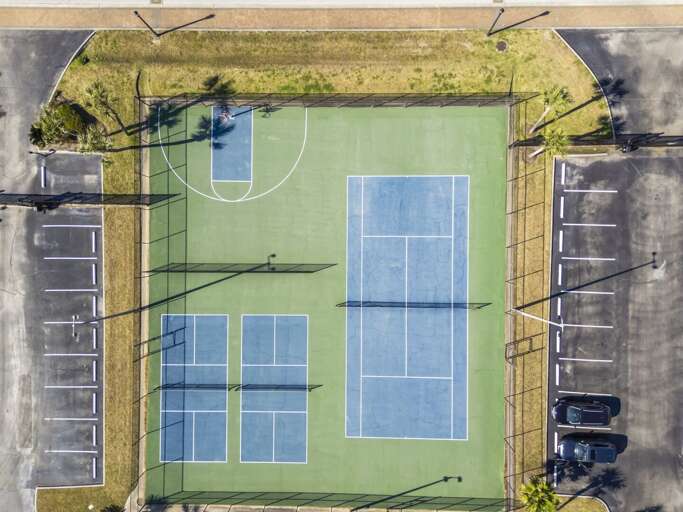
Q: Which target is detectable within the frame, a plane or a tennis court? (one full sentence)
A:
This aerial view contains a tennis court.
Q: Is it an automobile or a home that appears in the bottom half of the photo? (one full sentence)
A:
The one visible in the bottom half of the photo is an automobile.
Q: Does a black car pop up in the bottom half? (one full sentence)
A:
Yes, a black car appears in the bottom half.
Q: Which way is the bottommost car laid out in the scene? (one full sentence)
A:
I'd say the bottommost car is aligned from side to side in the picture.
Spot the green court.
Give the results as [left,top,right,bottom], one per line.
[145,105,506,509]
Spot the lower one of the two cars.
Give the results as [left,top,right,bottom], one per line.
[559,439,618,468]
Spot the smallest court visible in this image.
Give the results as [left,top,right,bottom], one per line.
[159,107,306,202]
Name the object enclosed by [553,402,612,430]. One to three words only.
car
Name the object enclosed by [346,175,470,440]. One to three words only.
tennis court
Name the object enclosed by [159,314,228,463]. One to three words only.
sports court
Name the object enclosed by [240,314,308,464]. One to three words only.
sports court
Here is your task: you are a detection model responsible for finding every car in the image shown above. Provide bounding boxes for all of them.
[559,439,618,468]
[553,402,612,430]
